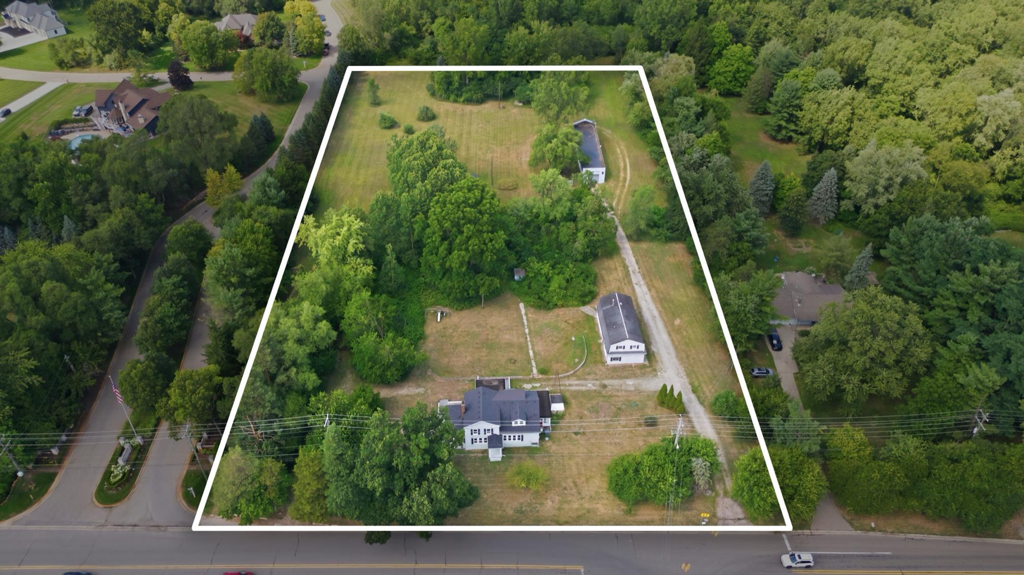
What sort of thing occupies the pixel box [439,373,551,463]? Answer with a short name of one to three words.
house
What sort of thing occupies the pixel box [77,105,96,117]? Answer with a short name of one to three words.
vehicle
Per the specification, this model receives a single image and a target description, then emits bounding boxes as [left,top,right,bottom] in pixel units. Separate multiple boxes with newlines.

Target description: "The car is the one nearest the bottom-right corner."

[780,552,817,569]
